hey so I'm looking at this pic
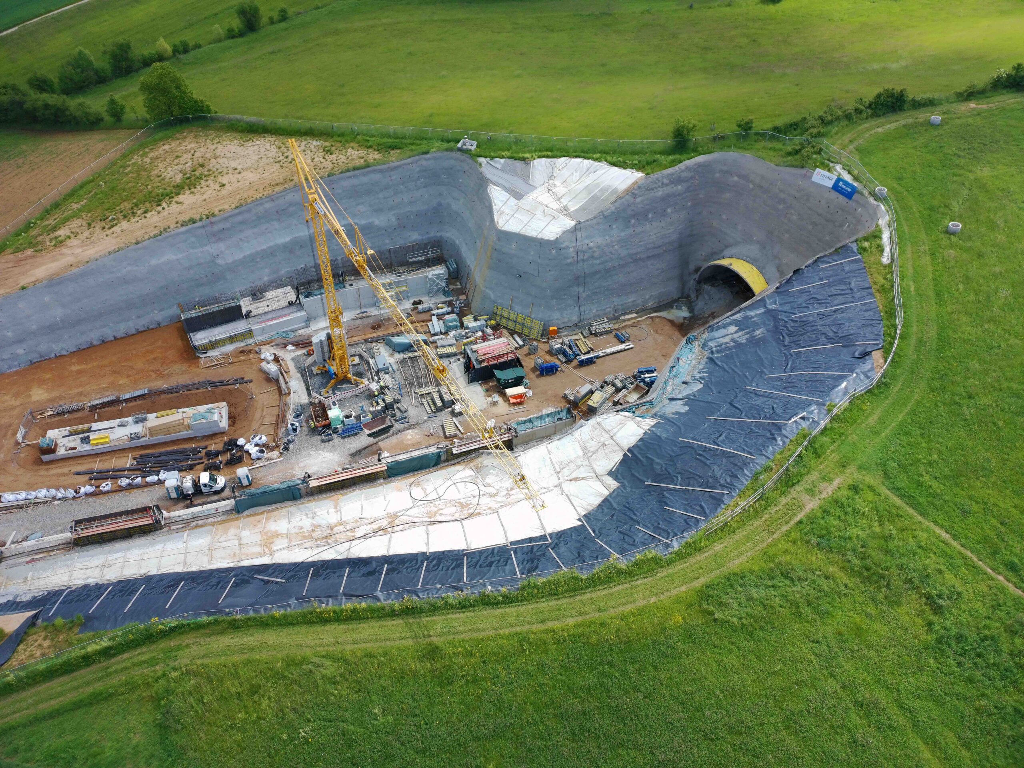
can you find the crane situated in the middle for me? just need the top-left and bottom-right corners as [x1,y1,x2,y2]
[289,138,548,510]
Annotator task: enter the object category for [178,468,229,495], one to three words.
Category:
truck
